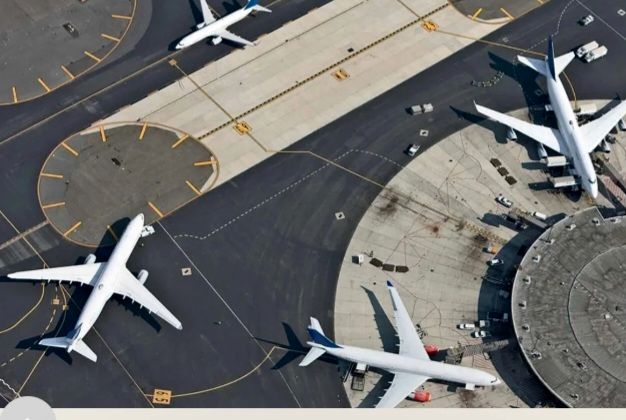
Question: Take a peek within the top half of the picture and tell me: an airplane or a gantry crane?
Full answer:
The one visible within the top half of the picture is an airplane.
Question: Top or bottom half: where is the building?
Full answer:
The building is in the bottom half of the image.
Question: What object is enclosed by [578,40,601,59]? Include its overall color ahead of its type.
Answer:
white vehicle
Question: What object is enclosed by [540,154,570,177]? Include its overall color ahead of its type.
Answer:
white truck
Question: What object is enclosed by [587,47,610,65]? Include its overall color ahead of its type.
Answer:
white vehicle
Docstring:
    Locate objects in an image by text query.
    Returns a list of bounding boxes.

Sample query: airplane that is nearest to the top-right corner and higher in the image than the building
[474,34,626,202]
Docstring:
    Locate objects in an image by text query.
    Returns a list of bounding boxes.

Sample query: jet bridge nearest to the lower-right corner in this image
[452,337,520,367]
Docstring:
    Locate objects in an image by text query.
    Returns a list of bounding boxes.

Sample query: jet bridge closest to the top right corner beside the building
[587,152,626,197]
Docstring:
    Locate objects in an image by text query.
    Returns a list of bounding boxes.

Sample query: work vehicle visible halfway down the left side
[141,225,158,238]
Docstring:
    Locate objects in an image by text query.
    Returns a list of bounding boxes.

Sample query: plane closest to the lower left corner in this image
[9,213,182,361]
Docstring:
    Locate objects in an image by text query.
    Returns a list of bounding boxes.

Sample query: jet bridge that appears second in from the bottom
[517,212,549,237]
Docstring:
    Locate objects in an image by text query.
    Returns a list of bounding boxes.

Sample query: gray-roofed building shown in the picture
[509,205,626,420]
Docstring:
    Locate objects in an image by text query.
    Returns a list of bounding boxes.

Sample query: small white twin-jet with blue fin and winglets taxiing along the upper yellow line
[175,0,269,49]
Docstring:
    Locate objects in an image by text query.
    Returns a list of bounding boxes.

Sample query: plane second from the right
[300,276,499,420]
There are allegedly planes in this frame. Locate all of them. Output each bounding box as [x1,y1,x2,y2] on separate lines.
[9,213,182,361]
[175,0,269,49]
[474,34,626,202]
[300,276,499,420]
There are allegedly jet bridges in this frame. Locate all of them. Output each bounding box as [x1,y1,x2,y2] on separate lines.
[517,212,549,237]
[452,337,520,367]
[587,152,626,197]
